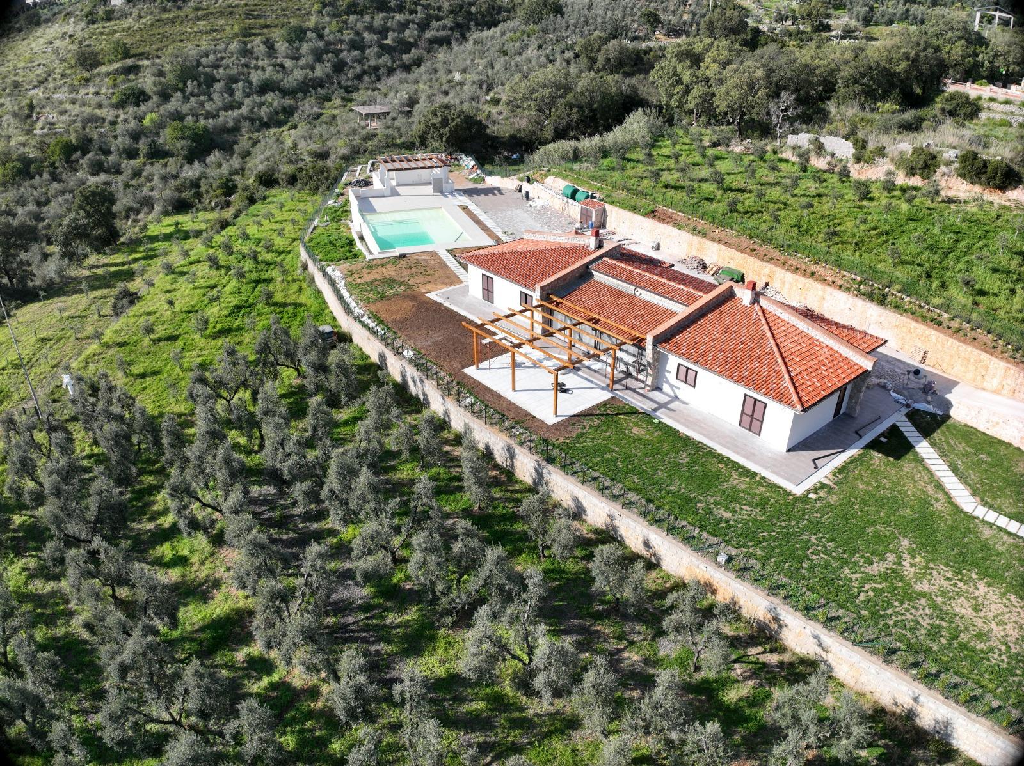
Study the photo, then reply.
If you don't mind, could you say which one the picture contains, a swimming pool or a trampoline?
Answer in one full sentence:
Looking from above, you can make out a swimming pool.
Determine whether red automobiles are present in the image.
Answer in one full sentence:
No, no red automobile can be seen from above.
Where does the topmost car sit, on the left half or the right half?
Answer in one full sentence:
The topmost car sits on the left side.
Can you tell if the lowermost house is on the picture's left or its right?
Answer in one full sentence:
You can find the lowermost house on the right side of the picture.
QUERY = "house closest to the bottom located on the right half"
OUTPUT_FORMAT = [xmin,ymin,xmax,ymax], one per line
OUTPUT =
[457,229,891,451]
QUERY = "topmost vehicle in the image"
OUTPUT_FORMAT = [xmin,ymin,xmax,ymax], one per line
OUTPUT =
[316,318,342,347]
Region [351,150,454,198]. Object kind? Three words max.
building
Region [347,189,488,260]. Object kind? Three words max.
swimming pool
